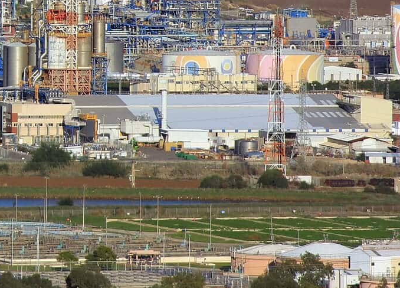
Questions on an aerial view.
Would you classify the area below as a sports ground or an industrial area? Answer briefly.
industrial area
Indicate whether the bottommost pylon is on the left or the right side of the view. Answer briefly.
right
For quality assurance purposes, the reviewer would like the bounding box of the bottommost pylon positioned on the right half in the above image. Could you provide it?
[292,84,314,158]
